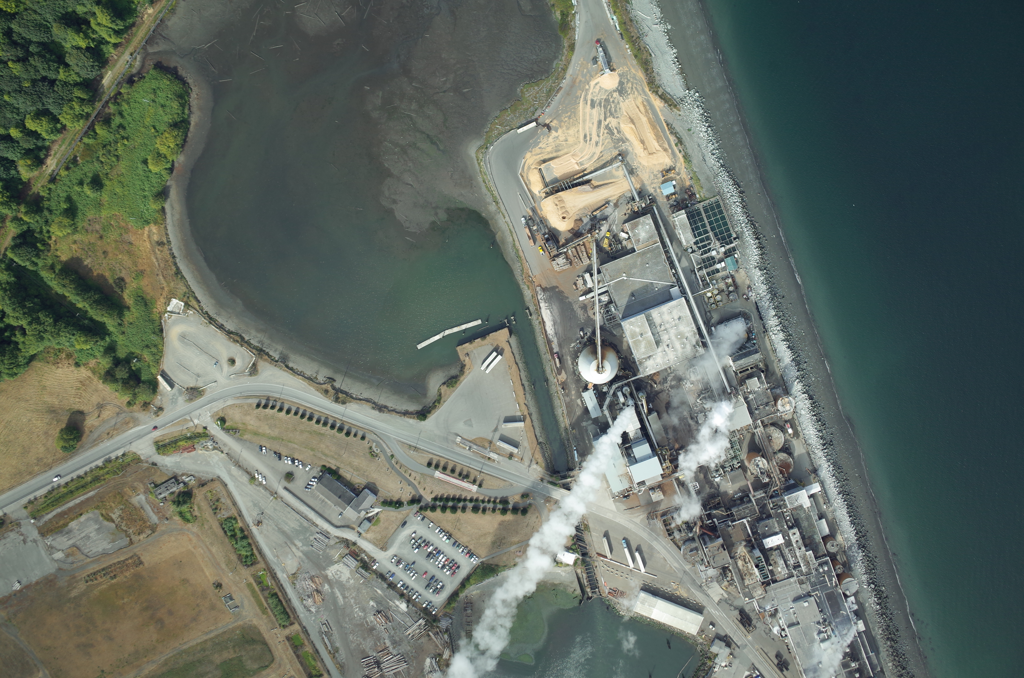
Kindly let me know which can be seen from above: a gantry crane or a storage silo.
storage silo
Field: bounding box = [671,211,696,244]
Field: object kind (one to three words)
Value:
building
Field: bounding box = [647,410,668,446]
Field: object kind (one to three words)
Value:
shed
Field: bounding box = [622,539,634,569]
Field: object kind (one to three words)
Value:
vehicle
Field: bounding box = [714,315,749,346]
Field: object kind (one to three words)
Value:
cooling tower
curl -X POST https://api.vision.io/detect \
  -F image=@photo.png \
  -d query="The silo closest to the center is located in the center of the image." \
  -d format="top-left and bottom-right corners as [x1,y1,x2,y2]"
[574,341,623,388]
